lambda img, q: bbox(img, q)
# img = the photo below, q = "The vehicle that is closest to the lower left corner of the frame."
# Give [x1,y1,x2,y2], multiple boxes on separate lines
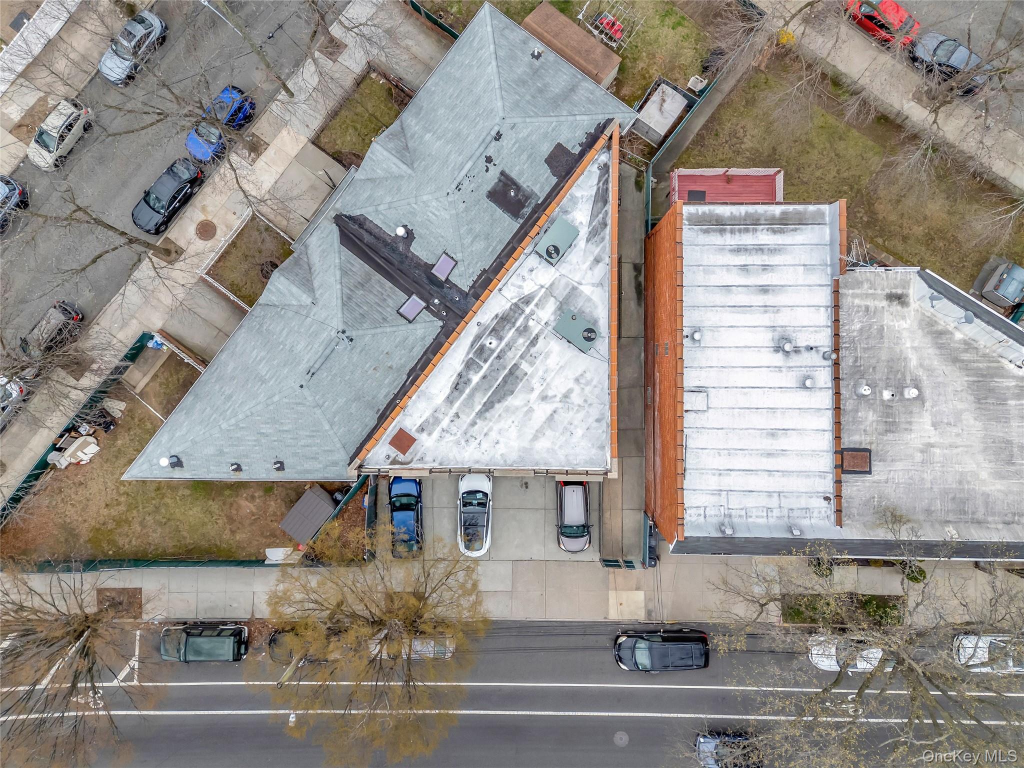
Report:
[164,624,247,666]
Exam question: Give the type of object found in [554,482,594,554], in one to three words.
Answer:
car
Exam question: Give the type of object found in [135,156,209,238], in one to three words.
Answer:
car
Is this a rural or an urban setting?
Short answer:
urban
